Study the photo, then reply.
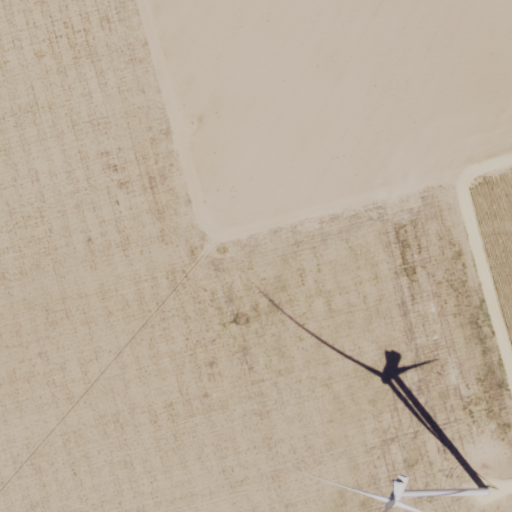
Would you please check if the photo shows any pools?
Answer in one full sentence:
No, there is no pool in the image.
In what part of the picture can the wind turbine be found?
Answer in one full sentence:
The wind turbine sits in the bottom right section of the image.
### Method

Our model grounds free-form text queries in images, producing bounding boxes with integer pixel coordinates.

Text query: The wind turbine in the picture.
[280,466,494,512]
